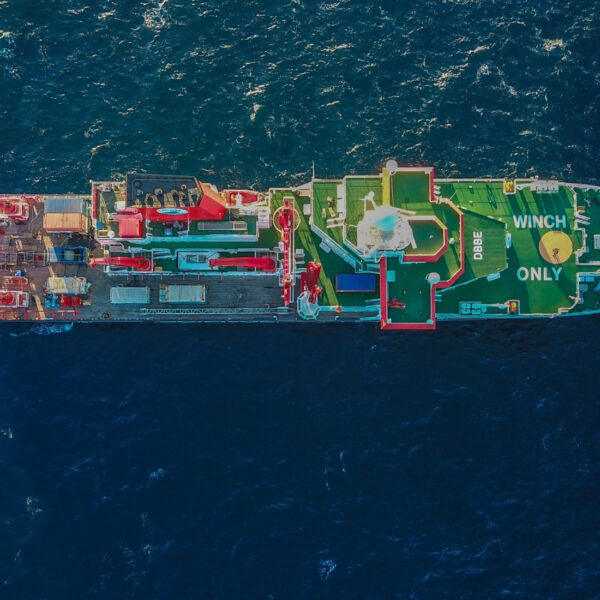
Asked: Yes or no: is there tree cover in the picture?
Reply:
No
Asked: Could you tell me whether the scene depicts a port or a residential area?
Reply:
port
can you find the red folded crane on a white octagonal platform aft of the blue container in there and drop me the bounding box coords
[297,260,324,319]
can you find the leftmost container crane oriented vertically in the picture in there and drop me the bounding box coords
[272,197,301,305]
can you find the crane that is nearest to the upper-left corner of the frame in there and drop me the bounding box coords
[86,255,156,271]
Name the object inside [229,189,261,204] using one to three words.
boat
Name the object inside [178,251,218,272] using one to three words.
boat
